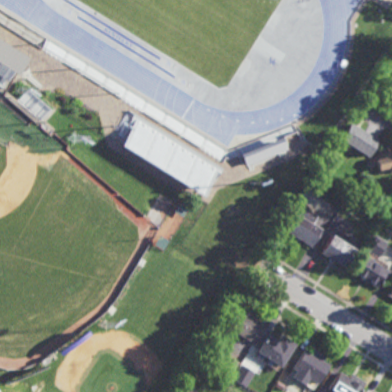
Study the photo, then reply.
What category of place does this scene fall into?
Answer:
sports ground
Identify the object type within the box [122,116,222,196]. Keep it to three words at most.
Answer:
building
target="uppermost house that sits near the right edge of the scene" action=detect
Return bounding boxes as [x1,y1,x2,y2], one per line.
[346,126,380,156]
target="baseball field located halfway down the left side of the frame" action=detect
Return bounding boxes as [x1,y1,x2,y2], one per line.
[0,98,152,370]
